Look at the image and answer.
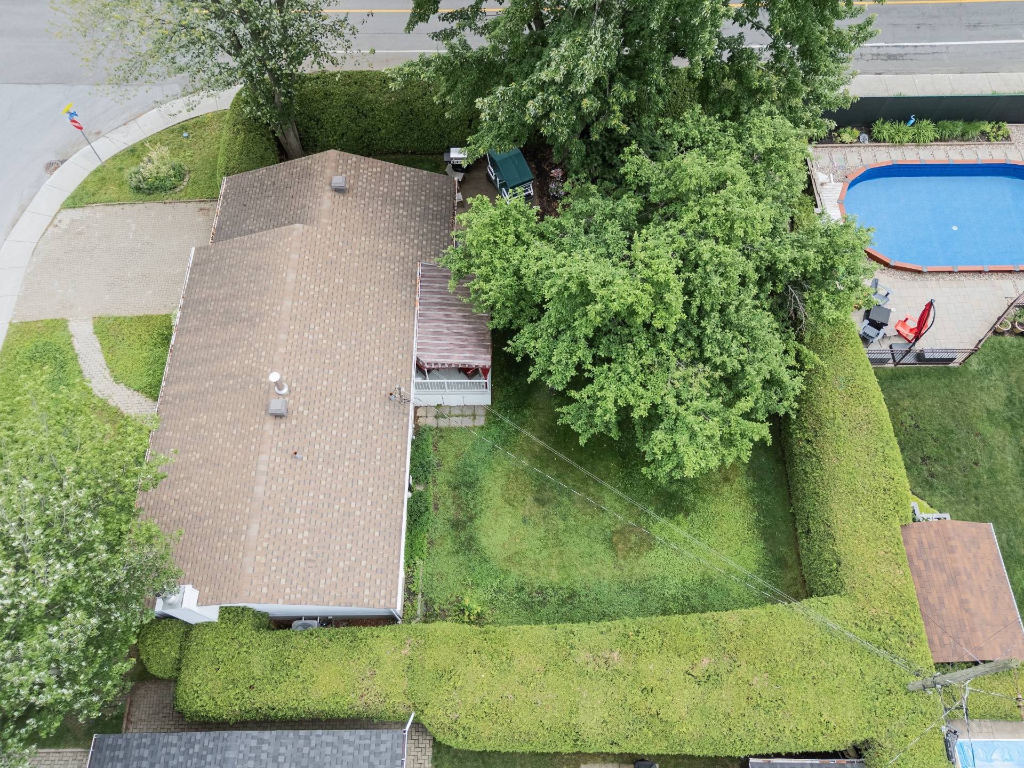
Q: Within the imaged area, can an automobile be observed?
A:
No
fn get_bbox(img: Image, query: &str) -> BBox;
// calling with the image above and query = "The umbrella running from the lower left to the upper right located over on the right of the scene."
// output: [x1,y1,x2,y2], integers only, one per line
[895,300,935,361]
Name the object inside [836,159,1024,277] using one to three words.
swimming pool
